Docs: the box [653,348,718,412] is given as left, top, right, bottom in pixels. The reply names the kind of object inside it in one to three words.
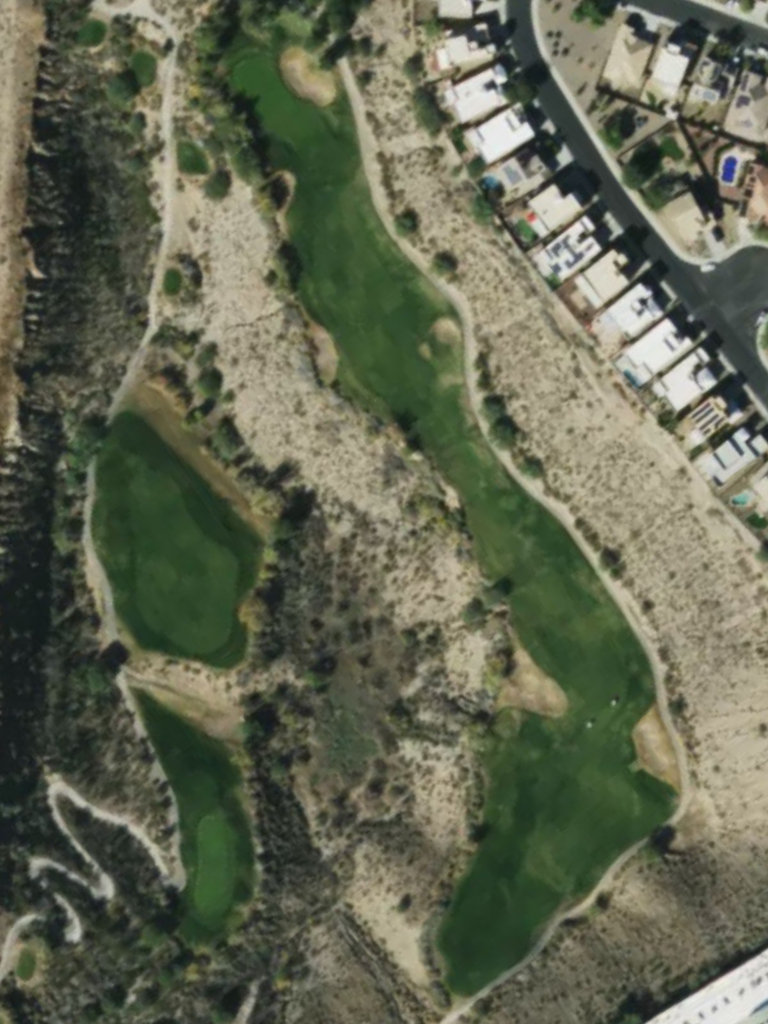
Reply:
house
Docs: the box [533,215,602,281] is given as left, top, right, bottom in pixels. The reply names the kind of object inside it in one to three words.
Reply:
house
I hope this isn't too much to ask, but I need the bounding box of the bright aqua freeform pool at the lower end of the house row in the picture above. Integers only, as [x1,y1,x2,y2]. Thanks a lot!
[731,490,752,506]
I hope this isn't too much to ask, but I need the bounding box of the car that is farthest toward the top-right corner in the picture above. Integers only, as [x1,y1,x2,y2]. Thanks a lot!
[712,226,724,242]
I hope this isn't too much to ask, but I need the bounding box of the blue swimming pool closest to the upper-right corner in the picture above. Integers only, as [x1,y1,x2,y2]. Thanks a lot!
[721,154,739,183]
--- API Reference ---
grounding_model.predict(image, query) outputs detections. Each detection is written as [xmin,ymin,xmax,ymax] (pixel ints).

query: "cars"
[712,226,724,242]
[756,310,768,325]
[700,264,715,271]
